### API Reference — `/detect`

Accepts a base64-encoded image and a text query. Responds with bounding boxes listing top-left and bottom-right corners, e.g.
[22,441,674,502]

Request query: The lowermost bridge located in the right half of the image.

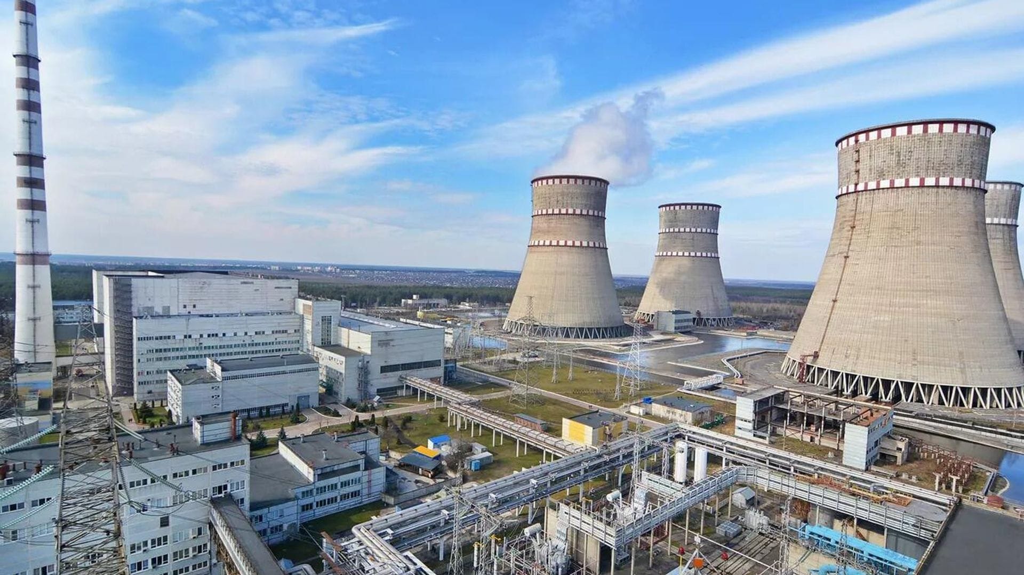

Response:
[681,371,734,392]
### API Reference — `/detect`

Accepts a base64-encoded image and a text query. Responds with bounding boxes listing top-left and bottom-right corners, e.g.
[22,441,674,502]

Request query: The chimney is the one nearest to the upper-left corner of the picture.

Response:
[9,0,55,373]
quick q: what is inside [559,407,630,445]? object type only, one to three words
building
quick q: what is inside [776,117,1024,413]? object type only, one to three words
cooling tower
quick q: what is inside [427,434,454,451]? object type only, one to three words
building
